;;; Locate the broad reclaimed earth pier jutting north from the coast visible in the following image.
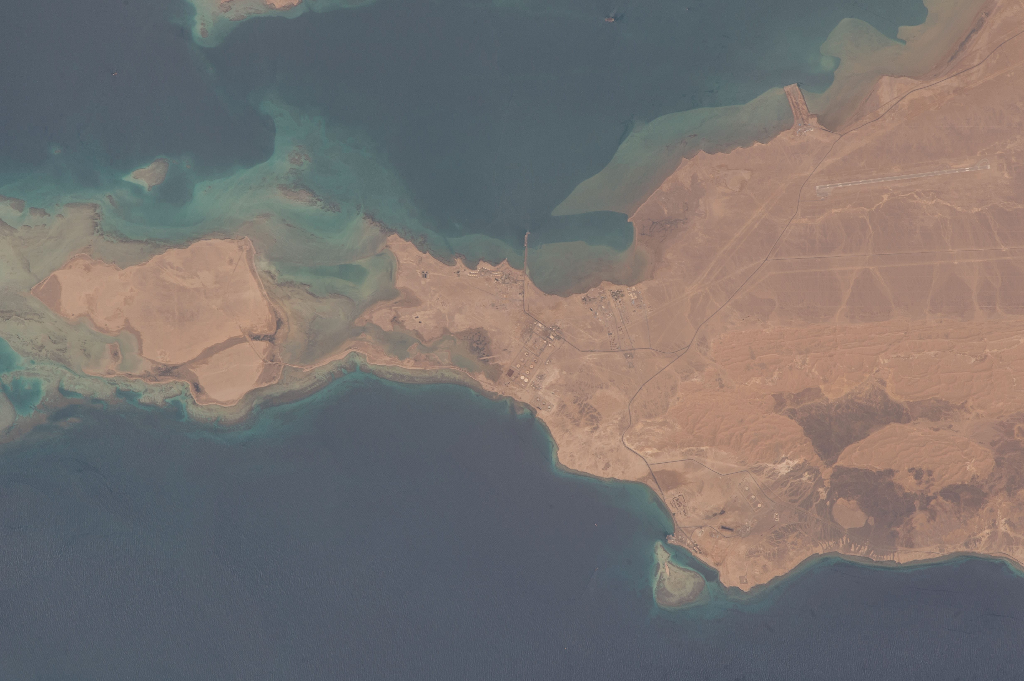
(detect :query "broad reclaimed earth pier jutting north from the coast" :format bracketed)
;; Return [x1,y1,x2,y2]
[784,83,826,130]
